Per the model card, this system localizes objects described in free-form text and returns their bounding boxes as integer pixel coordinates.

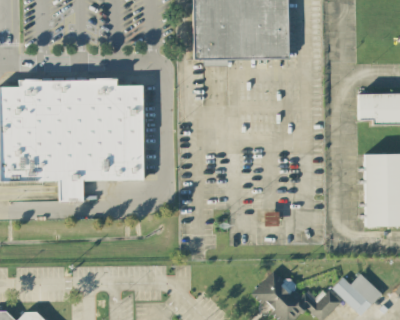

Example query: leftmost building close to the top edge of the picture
[193,0,289,66]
